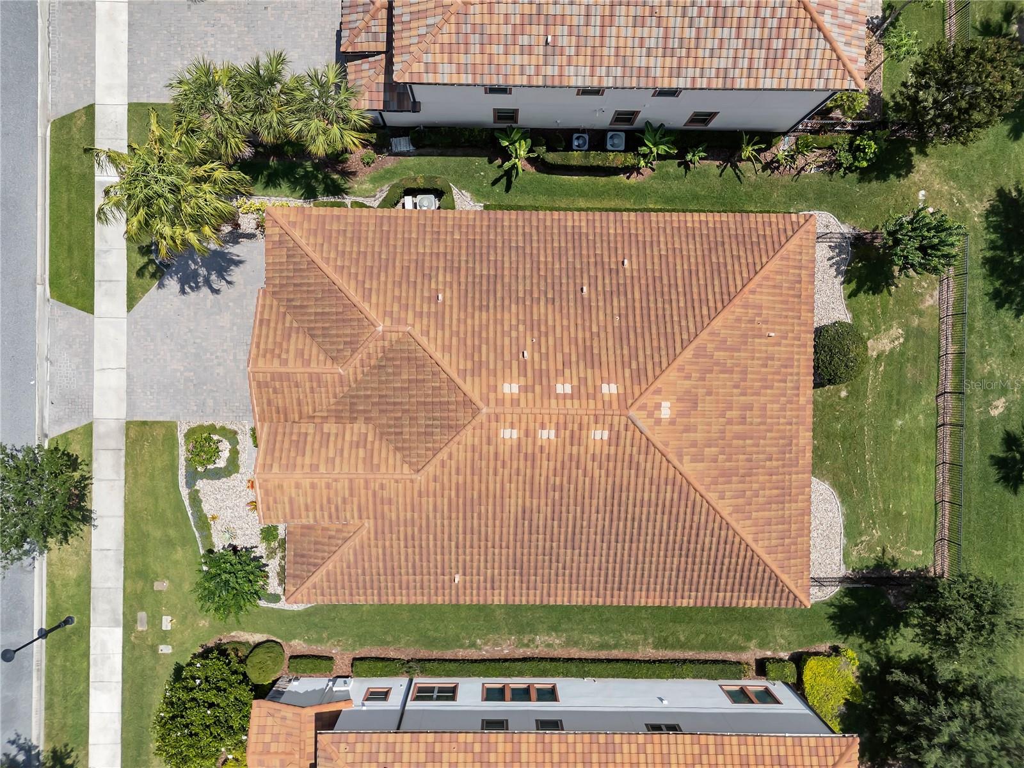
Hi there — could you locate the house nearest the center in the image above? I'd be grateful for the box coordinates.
[246,207,817,610]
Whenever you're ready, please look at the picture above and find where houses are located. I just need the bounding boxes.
[242,673,861,768]
[339,0,867,137]
[246,207,817,610]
